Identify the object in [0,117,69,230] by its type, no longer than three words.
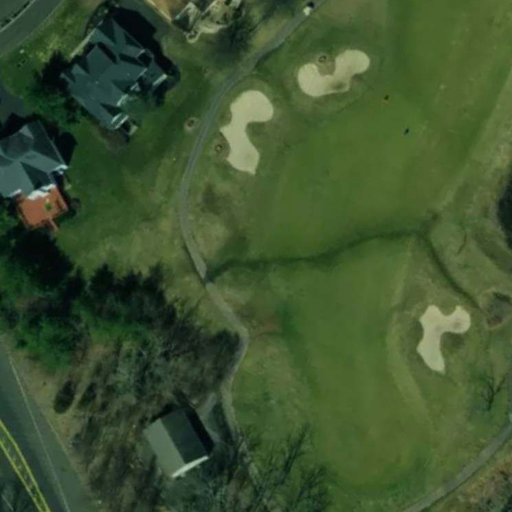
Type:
house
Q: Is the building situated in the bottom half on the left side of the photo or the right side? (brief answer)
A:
left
